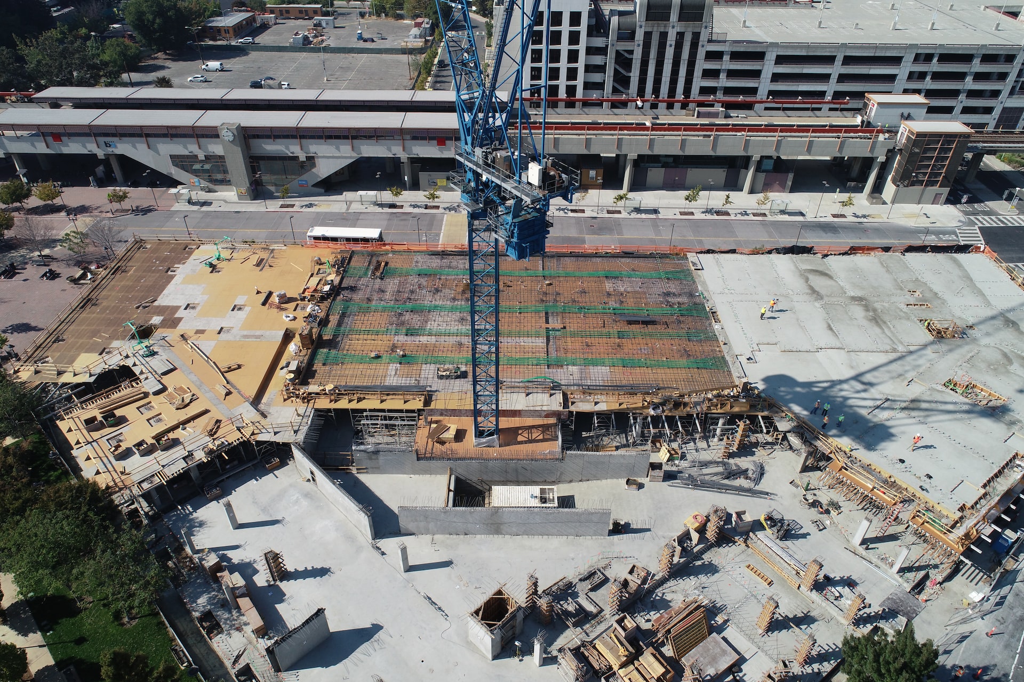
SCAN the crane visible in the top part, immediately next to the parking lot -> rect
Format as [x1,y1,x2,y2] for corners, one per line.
[430,0,597,439]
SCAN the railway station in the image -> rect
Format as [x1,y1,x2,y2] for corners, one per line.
[0,81,896,192]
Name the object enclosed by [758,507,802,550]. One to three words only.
work vehicle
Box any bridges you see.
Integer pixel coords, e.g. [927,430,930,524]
[953,118,1024,182]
